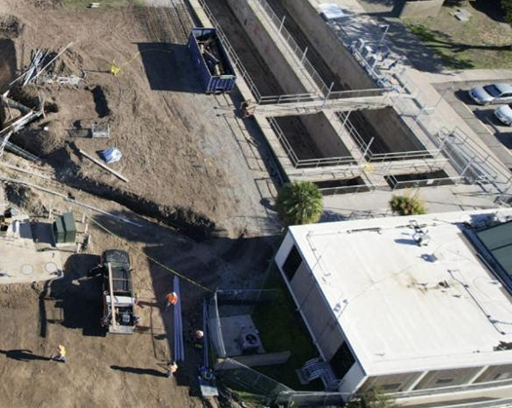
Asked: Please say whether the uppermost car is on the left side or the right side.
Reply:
right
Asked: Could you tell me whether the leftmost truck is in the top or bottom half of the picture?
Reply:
bottom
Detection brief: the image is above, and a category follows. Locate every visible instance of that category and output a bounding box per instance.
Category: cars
[492,107,512,128]
[470,82,512,107]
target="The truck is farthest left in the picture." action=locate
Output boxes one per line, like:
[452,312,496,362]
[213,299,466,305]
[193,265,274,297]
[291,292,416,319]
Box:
[104,248,148,339]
